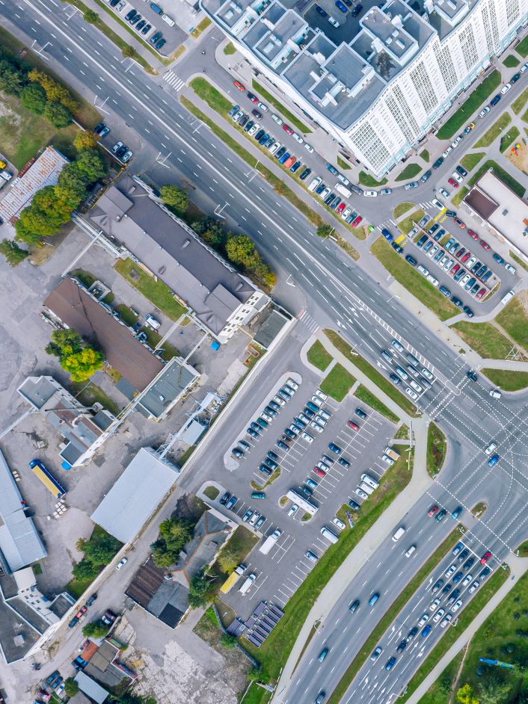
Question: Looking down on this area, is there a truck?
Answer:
Yes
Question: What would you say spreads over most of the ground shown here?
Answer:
paved ground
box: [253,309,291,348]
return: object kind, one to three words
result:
building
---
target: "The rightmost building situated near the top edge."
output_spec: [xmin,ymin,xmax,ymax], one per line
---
[198,0,528,175]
